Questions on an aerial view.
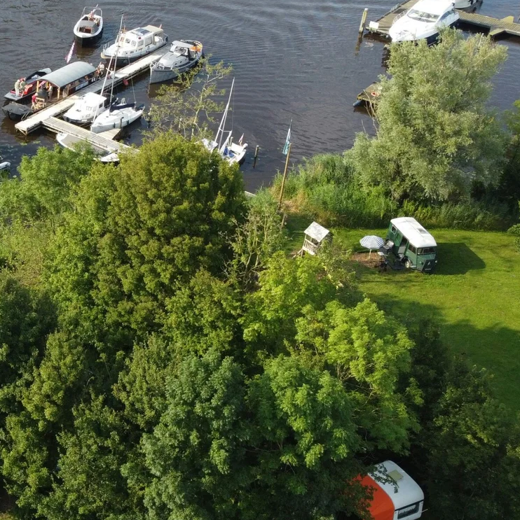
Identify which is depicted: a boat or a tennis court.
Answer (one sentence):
I can see a boat in this picture.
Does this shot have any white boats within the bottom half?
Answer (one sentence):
No, I see no white boat within the bottom half.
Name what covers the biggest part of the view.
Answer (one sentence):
What you mostly see from above here is trees.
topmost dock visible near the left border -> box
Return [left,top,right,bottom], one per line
[11,53,166,140]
